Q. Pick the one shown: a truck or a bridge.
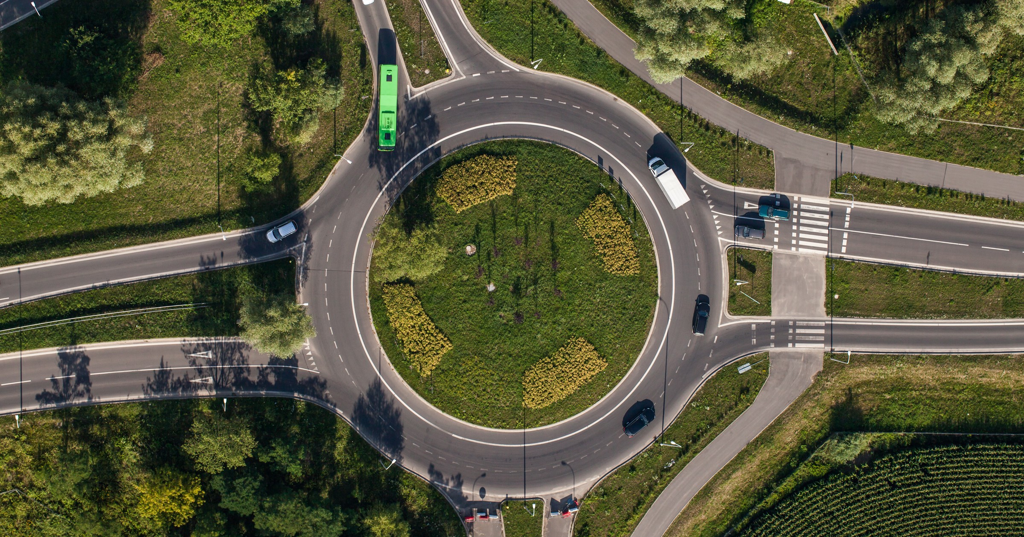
truck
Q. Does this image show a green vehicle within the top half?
Yes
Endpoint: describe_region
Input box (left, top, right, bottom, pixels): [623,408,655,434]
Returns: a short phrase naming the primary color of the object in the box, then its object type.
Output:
black car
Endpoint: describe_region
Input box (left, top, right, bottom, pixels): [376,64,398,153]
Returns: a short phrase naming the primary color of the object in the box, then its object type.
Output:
green bus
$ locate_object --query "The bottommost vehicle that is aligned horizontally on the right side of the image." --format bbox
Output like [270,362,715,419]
[735,225,765,240]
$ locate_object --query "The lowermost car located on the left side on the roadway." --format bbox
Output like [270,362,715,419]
[265,220,299,243]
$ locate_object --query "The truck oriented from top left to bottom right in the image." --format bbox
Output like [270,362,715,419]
[649,156,691,209]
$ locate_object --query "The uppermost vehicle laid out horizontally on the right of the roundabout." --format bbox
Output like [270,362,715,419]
[758,203,791,219]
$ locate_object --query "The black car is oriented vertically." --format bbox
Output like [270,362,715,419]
[693,301,711,336]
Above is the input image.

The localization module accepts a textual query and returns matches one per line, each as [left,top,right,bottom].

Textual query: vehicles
[735,225,765,240]
[693,301,711,336]
[265,220,299,243]
[376,64,398,153]
[623,408,655,434]
[758,203,791,219]
[649,156,691,209]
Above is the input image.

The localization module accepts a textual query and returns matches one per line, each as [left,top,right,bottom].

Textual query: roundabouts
[302,72,725,496]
